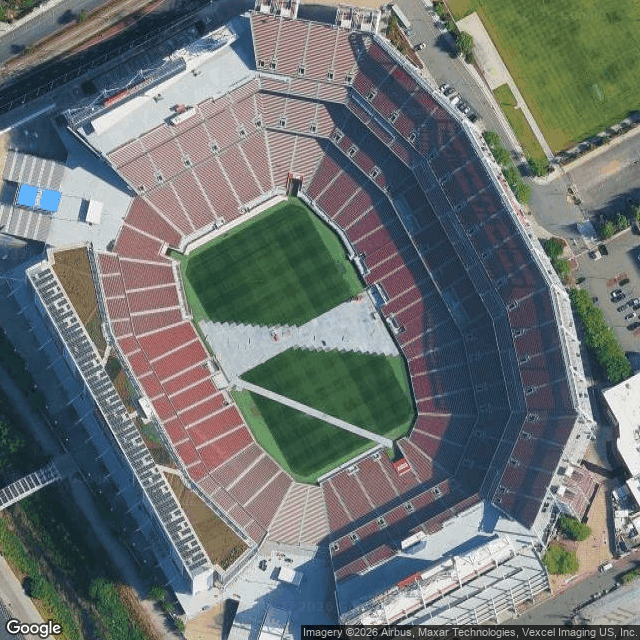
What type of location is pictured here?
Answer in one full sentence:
The area seen from above is a sports ground.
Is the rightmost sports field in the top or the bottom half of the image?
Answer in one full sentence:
Seen from above, the rightmost sports field lies in the top half of the view.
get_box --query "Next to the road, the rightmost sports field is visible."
[481,0,640,141]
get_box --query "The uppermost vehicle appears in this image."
[392,6,413,34]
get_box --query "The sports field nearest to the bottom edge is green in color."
[188,200,413,476]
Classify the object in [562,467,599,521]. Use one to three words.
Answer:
building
